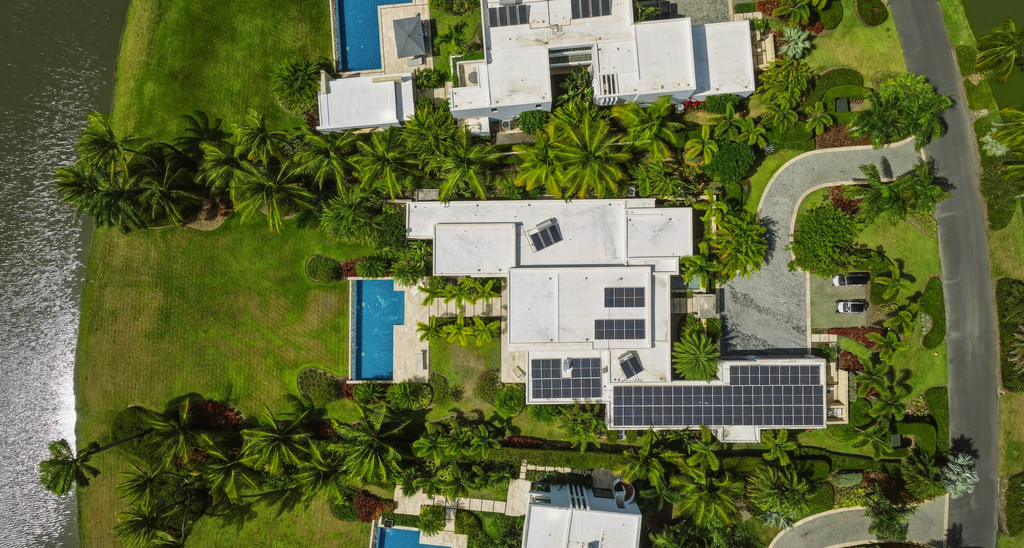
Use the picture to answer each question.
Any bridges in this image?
No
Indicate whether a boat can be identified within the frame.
No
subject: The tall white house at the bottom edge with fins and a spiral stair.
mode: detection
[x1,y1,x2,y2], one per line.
[517,472,642,548]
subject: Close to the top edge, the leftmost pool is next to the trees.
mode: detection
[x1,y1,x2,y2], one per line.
[330,0,413,75]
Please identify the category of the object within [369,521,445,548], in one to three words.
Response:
swimming pool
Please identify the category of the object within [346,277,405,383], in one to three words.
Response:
swimming pool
